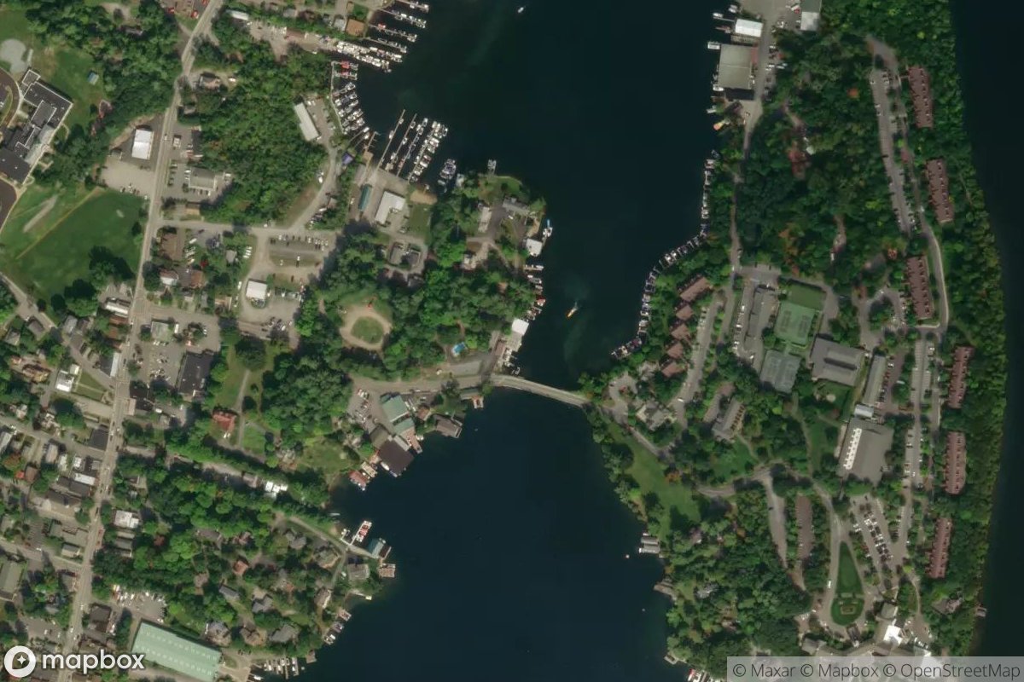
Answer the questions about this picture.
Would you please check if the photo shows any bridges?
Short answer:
Yes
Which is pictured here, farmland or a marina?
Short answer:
marina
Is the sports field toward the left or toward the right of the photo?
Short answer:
left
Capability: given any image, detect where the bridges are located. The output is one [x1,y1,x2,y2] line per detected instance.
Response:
[488,376,592,411]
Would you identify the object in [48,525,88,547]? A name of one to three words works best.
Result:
building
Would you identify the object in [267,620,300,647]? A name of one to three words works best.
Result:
house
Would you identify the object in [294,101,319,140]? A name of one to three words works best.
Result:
shed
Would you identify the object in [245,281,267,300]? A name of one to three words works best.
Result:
barn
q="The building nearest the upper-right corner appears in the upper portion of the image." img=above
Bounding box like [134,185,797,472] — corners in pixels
[908,66,936,129]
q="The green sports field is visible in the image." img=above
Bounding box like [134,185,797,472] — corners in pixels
[0,190,148,325]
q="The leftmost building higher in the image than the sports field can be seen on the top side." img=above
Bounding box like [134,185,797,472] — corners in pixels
[0,69,72,184]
